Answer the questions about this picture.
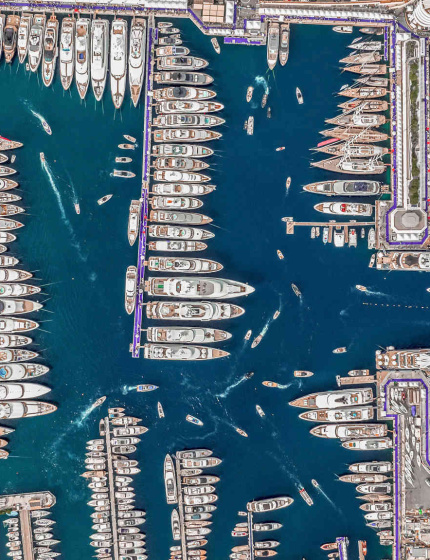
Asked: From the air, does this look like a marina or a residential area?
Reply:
marina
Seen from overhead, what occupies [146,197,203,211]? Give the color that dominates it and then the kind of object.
white boat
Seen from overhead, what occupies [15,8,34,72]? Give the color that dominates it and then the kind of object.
white boat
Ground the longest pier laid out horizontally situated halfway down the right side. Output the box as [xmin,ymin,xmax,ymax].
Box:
[286,221,375,234]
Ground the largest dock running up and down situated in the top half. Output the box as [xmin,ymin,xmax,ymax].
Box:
[132,18,158,358]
